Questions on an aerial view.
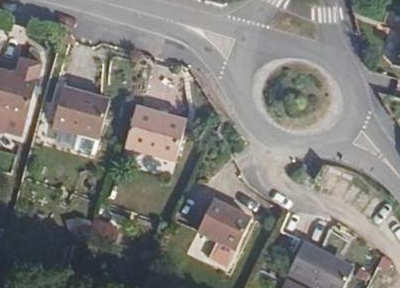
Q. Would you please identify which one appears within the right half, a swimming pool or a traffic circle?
traffic circle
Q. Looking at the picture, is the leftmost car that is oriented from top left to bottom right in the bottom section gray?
Yes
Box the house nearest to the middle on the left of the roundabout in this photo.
[126,105,188,163]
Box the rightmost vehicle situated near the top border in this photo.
[56,12,77,28]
